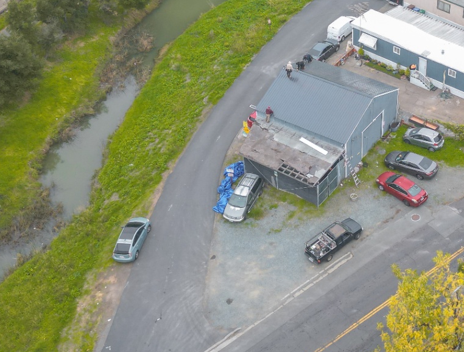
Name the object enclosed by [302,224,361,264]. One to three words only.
truck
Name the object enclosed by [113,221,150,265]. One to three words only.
car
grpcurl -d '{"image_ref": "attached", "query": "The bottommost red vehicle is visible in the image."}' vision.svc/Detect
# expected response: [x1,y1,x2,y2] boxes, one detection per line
[375,175,429,206]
